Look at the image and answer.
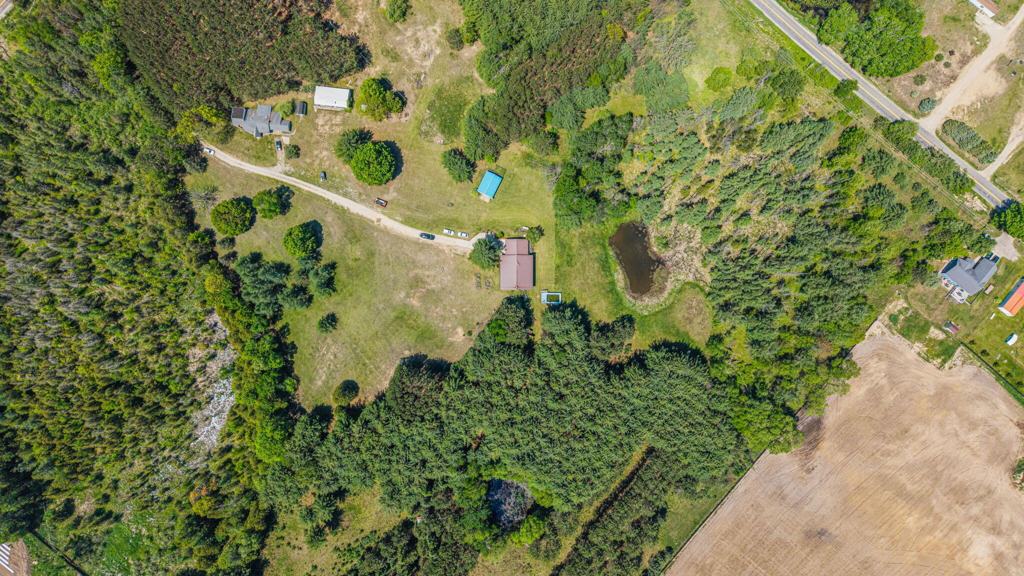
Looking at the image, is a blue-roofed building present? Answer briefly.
Yes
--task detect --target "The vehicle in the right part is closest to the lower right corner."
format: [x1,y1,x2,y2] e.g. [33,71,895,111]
[1003,334,1017,347]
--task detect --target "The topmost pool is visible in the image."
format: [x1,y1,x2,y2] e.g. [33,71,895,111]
[543,290,562,305]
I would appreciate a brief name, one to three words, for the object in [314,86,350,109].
barn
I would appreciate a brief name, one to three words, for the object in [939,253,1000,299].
house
